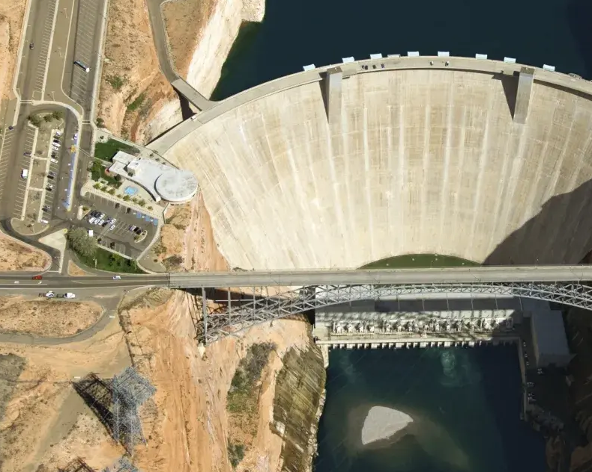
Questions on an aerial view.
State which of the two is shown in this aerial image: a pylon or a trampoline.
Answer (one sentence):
The image shows a pylon.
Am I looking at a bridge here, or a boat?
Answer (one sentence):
The one in the frame is a bridge.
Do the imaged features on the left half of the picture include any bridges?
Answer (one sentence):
Yes, the scene does show a bridge on the left half of the picture.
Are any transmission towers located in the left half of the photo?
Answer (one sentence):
Yes, a transmission tower shows up in the left half of the photo.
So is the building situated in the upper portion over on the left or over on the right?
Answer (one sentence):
You can find the building situated in the upper portion on the left side of the picture.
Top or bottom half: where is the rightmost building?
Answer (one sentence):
The rightmost building sits in the bottom half of the picture.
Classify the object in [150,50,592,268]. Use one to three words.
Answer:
dam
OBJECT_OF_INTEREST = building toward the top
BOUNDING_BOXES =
[108,151,198,208]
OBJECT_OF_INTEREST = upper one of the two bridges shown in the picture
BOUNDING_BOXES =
[170,76,214,116]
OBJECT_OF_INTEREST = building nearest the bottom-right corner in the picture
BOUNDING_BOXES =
[529,310,574,384]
